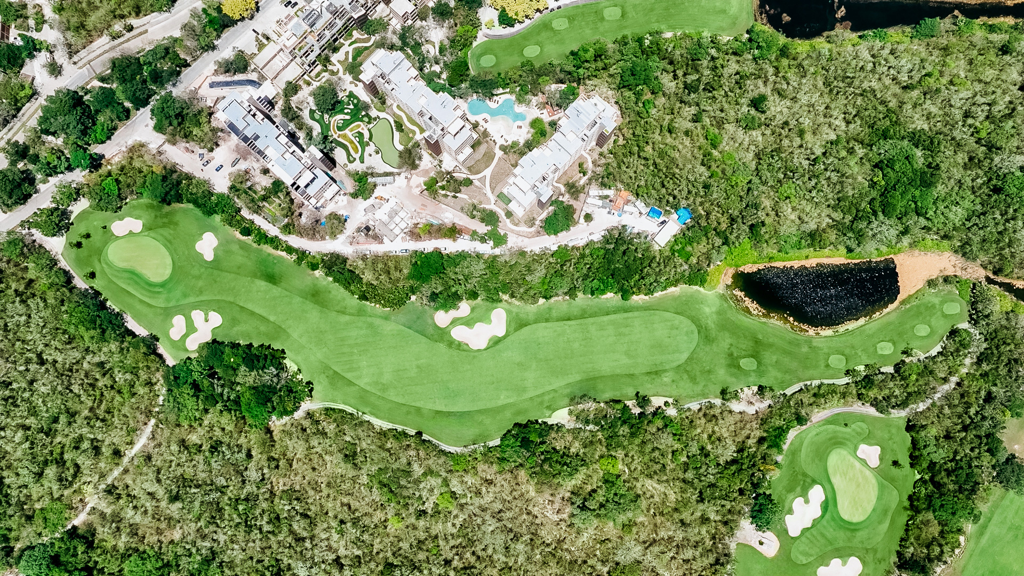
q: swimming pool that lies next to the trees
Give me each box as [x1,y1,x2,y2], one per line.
[467,97,527,132]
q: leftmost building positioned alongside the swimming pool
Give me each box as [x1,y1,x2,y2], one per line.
[358,49,482,168]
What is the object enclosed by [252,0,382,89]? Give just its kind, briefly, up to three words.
building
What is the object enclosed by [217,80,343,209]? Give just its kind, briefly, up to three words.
building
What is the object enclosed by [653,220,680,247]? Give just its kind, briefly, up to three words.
shed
